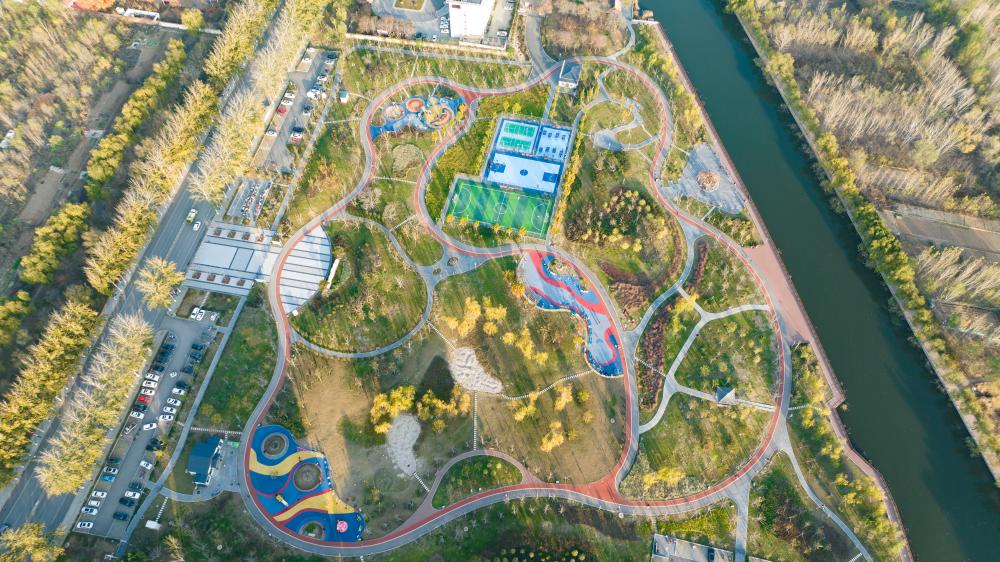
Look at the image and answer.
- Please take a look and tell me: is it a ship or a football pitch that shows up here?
football pitch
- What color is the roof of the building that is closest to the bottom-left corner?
blue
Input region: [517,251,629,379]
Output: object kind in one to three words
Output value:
playground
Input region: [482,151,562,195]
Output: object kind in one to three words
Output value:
basketball court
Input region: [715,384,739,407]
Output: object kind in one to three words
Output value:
building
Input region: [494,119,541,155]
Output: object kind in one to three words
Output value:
sports court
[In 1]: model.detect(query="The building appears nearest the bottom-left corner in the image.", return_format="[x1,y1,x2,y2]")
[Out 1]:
[188,435,226,487]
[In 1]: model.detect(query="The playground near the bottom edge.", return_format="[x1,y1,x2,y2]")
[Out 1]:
[253,424,365,538]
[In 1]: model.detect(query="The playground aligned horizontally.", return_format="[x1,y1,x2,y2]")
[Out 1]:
[373,96,463,139]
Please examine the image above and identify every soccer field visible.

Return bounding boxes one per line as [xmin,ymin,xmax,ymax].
[442,178,556,238]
